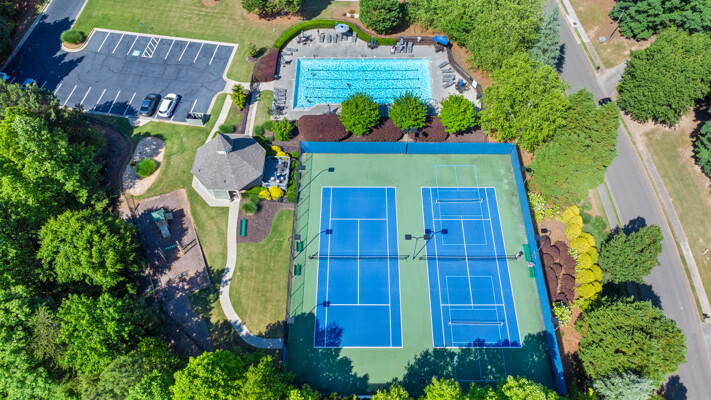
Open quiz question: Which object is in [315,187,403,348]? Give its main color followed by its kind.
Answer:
blue tennis court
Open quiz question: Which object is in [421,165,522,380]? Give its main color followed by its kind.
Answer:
blue tennis court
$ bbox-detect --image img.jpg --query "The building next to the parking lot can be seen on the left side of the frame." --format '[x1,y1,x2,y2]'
[192,133,270,204]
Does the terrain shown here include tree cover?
Yes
